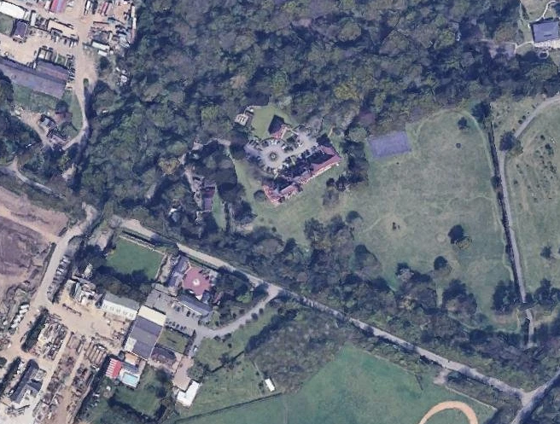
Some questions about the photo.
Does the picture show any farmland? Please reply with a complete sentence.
Yes, farmland shows up in the scene.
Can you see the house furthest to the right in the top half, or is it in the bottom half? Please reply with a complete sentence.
You can find the house furthest to the right in the top half.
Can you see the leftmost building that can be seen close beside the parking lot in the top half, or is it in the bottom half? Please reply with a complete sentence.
Seen from above, the leftmost building that can be seen close beside the parking lot lies in the bottom half of the view.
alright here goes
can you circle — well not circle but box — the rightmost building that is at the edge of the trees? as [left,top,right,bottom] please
[531,21,560,43]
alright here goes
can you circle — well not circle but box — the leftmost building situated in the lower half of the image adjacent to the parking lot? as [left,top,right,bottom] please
[100,293,140,319]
